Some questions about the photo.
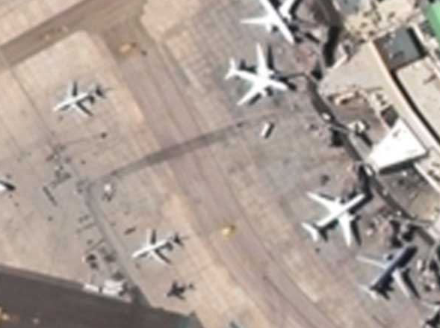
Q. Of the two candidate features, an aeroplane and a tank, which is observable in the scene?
aeroplane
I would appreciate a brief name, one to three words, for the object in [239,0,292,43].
airplane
